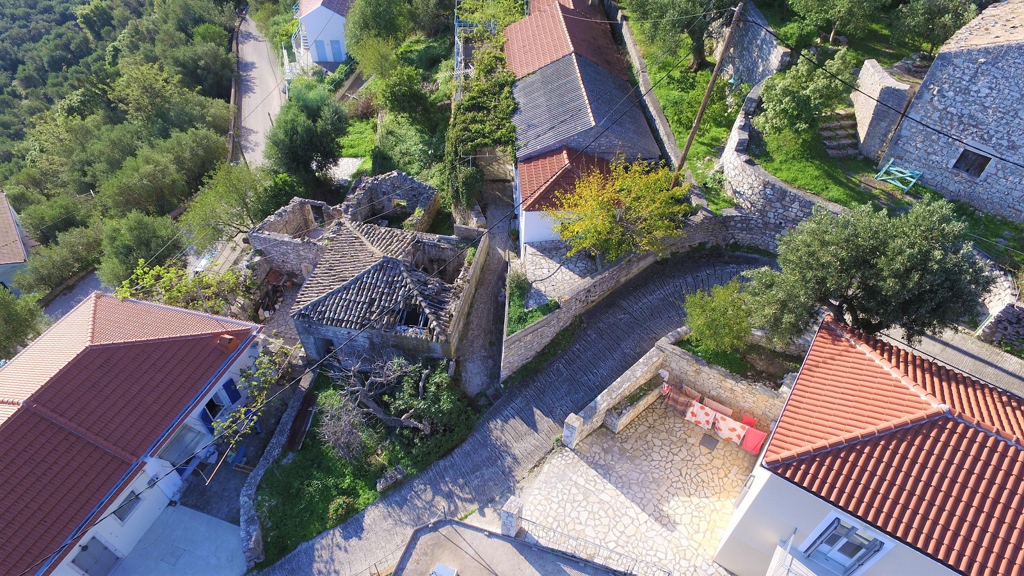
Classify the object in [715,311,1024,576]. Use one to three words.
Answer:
house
